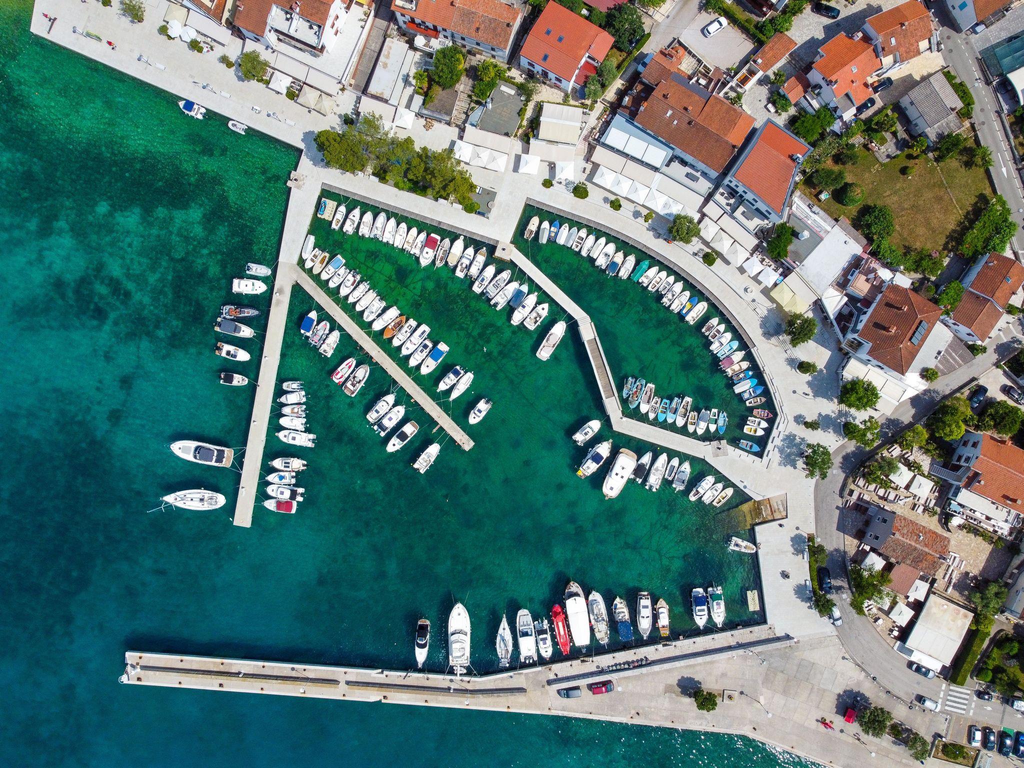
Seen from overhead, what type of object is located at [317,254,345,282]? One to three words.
boat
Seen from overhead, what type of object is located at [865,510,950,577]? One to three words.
house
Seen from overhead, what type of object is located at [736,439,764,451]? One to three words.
boat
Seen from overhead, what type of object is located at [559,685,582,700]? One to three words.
car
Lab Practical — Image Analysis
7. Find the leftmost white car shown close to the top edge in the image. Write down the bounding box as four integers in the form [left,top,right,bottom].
[703,16,728,40]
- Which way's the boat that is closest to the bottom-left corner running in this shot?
from side to side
